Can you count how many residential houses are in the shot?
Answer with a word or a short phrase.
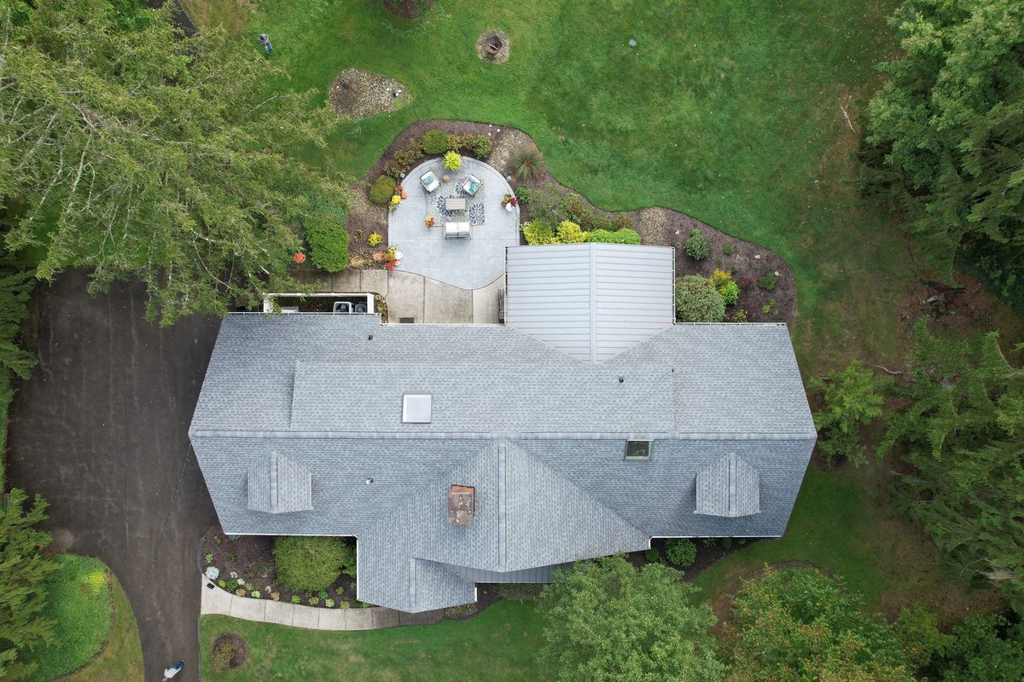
one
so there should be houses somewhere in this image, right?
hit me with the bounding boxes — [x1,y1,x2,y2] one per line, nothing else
[190,242,816,613]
